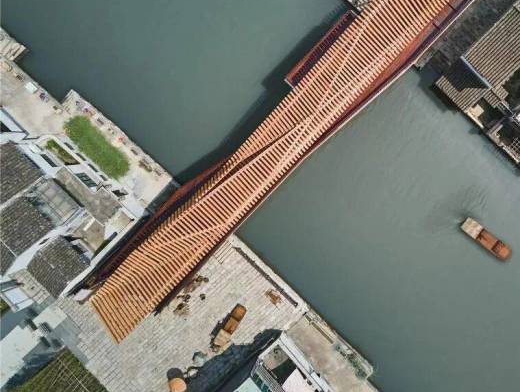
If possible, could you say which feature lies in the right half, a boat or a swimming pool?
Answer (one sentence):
The one visible in the right half is a boat.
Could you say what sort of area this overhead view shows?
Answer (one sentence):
This looks like a residential area.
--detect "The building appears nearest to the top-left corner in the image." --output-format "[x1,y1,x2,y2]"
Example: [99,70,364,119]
[0,142,58,203]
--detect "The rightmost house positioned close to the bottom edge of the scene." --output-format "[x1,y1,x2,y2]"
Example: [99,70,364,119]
[225,316,350,392]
